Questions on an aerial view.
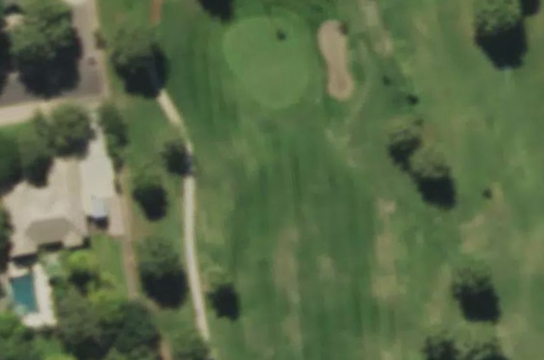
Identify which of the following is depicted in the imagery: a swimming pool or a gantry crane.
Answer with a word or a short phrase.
swimming pool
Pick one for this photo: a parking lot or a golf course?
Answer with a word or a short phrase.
golf course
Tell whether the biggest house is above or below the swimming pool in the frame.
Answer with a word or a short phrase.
above it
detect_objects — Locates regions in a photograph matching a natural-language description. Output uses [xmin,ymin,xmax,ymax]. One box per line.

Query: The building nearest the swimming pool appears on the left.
[2,156,88,258]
